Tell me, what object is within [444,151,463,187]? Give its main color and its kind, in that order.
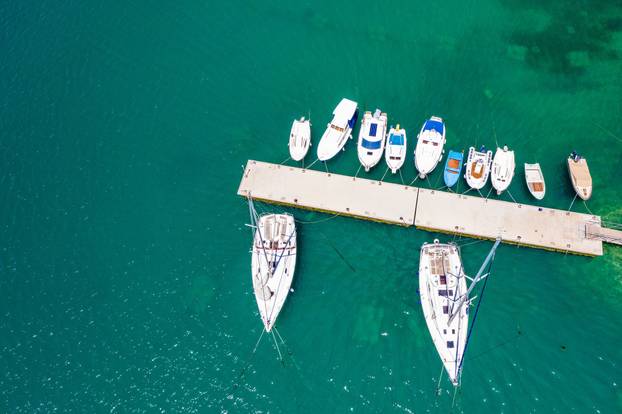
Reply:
blue boat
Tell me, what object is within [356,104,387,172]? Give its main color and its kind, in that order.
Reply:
white boat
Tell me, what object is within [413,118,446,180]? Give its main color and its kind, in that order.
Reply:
white boat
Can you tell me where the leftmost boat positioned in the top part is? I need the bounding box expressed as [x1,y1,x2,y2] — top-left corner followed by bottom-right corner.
[287,108,312,163]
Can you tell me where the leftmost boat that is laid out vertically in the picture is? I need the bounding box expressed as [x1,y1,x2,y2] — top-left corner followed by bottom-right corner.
[247,186,298,333]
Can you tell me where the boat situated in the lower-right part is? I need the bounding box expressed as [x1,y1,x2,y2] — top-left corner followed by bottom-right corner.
[415,233,502,386]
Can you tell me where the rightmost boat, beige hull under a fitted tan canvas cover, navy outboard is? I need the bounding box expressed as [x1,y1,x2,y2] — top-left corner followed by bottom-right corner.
[566,151,592,202]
